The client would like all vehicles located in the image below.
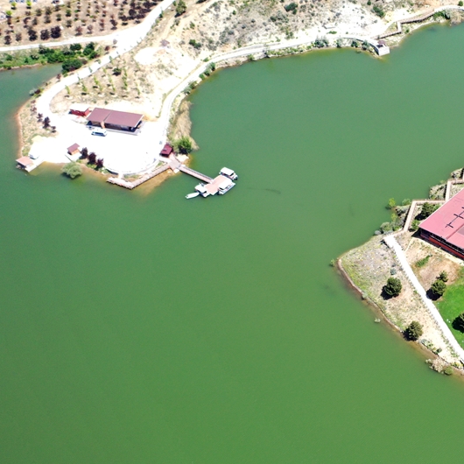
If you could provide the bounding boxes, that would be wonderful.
[90,129,108,137]
[29,154,40,159]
